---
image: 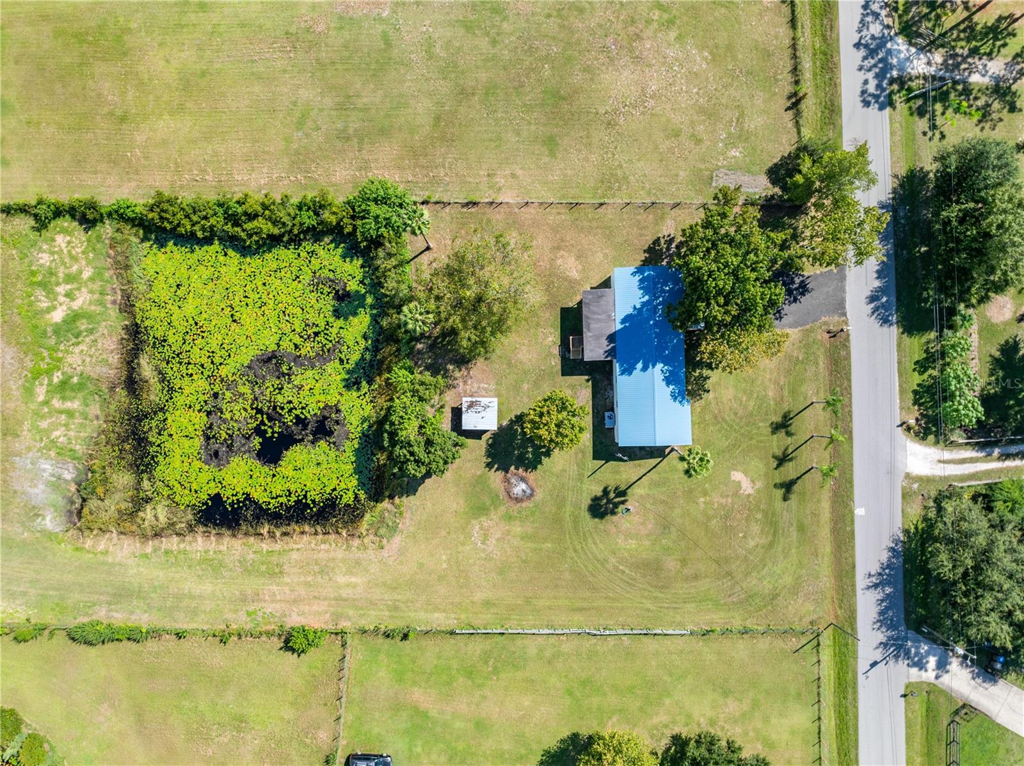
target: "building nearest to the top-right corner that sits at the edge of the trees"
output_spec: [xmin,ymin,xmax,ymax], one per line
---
[580,265,703,448]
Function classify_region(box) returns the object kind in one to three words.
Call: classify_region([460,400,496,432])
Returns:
shed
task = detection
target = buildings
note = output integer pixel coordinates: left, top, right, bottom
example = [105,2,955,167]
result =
[460,400,496,432]
[580,265,703,448]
